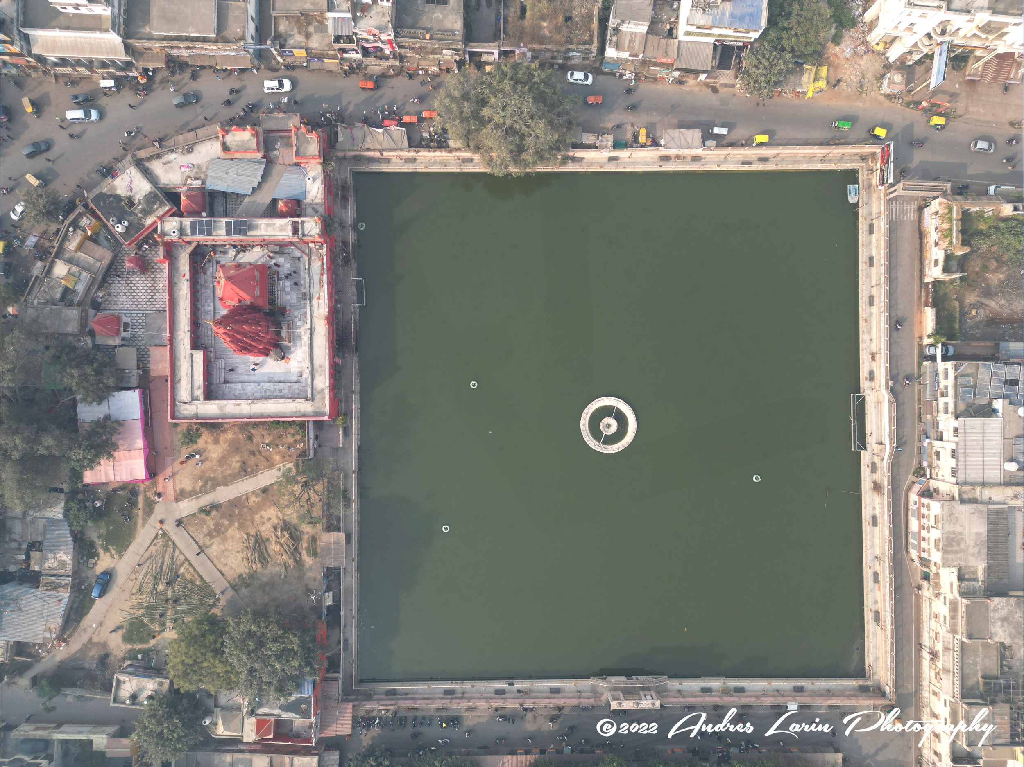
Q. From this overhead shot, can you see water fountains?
Yes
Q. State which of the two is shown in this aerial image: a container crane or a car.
car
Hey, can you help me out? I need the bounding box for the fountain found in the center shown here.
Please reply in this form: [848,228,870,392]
[580,397,637,453]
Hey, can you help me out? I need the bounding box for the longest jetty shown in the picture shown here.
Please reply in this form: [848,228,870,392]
[590,672,669,693]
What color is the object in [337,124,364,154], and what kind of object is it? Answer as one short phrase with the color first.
gray tent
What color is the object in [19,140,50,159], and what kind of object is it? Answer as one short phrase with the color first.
gray car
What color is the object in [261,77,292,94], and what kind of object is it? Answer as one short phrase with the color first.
white car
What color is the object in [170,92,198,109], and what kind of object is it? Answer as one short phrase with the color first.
gray car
